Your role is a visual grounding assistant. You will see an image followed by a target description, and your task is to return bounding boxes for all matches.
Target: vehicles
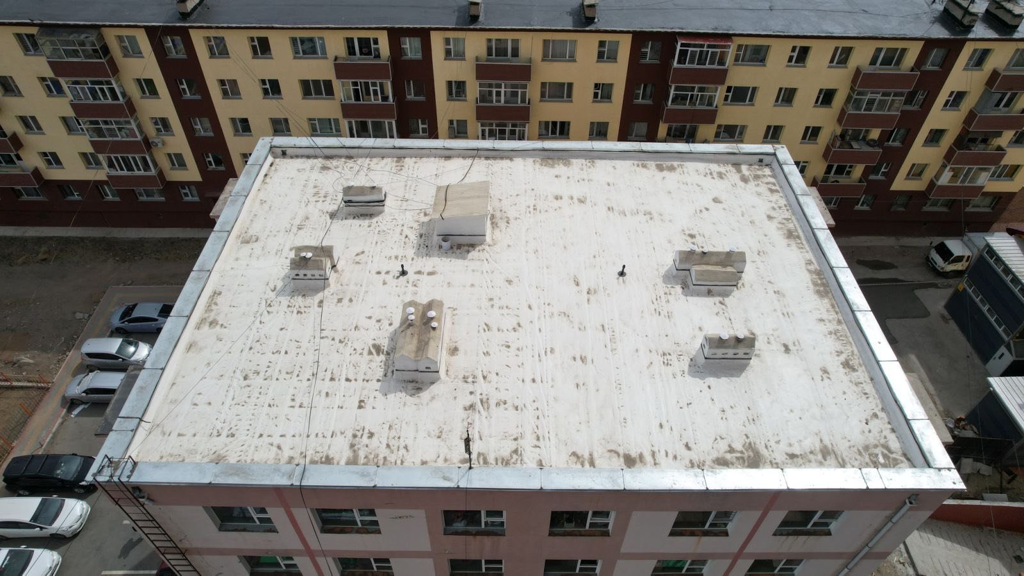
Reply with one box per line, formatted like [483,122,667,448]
[0,445,104,492]
[926,219,1019,275]
[0,493,89,540]
[107,299,181,333]
[76,335,161,370]
[0,546,62,576]
[63,367,129,405]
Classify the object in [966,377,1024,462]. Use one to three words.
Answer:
shed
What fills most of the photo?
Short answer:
buildings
